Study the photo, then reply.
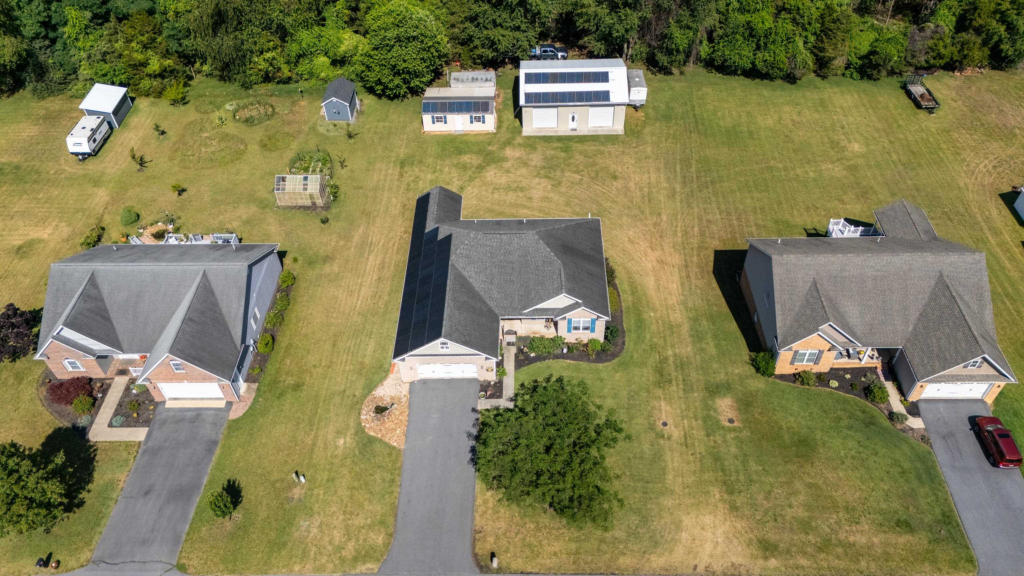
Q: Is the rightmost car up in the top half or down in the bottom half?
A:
bottom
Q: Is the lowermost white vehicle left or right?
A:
left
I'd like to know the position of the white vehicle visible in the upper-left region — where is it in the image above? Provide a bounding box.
[66,117,111,164]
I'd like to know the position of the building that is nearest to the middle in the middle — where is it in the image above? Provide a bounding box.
[390,185,611,383]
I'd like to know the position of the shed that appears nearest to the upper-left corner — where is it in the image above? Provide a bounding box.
[79,83,132,128]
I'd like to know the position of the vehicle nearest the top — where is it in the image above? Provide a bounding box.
[527,40,568,60]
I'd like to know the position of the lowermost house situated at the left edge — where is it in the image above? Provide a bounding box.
[33,241,284,404]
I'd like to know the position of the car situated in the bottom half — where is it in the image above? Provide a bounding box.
[973,414,1024,471]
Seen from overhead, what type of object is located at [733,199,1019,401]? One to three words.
house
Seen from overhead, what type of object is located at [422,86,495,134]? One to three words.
shed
